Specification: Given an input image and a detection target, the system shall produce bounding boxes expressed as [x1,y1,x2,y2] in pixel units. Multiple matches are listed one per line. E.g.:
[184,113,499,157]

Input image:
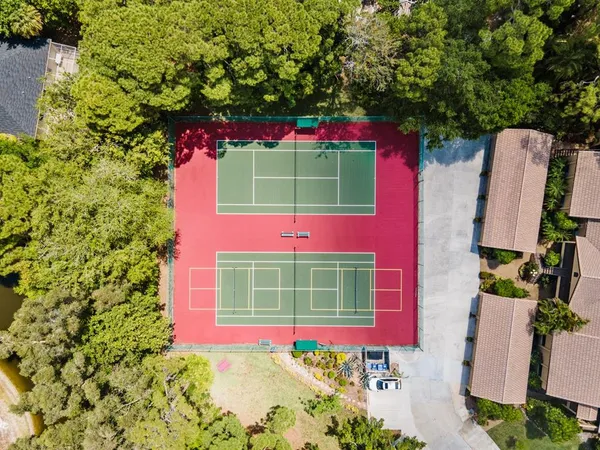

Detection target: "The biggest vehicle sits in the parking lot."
[369,376,401,393]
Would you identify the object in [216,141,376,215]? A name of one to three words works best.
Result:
tennis court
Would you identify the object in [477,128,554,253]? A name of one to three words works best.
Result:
building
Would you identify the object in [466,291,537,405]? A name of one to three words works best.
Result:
building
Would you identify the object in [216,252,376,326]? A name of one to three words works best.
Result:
tennis court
